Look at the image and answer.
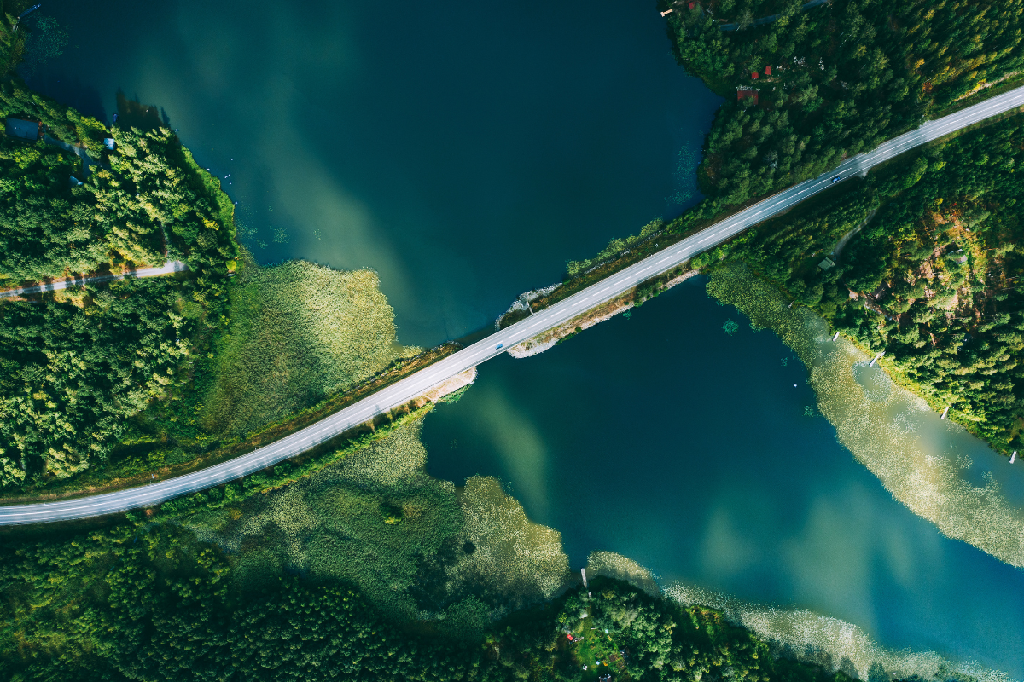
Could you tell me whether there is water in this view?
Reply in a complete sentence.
Yes, water shows up in the scene.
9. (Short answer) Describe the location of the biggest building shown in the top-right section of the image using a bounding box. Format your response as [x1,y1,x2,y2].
[736,90,759,106]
